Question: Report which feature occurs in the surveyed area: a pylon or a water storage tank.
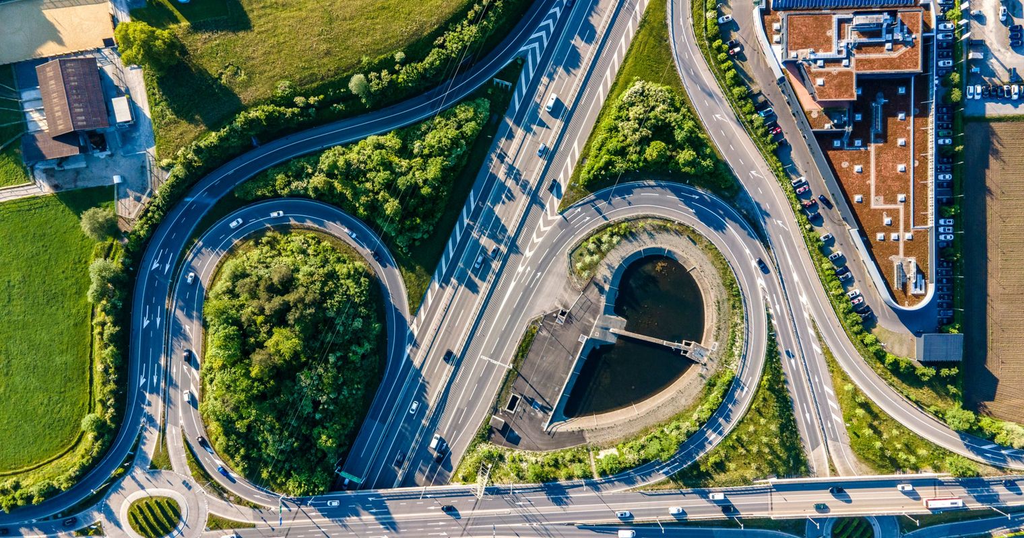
pylon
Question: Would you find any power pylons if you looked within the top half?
No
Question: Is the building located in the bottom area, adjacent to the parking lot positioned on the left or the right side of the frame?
right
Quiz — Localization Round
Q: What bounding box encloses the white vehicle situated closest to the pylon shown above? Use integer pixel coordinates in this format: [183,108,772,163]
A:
[429,432,441,450]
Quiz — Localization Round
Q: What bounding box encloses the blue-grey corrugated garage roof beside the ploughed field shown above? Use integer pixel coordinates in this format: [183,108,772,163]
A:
[916,332,964,362]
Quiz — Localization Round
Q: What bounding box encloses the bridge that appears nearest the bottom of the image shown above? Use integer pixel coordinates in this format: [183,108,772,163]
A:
[255,474,1024,538]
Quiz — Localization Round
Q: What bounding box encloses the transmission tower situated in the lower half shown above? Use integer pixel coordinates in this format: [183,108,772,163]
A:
[469,455,496,500]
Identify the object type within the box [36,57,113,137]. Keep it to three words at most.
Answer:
barn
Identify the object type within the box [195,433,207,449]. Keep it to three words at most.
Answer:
vehicle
